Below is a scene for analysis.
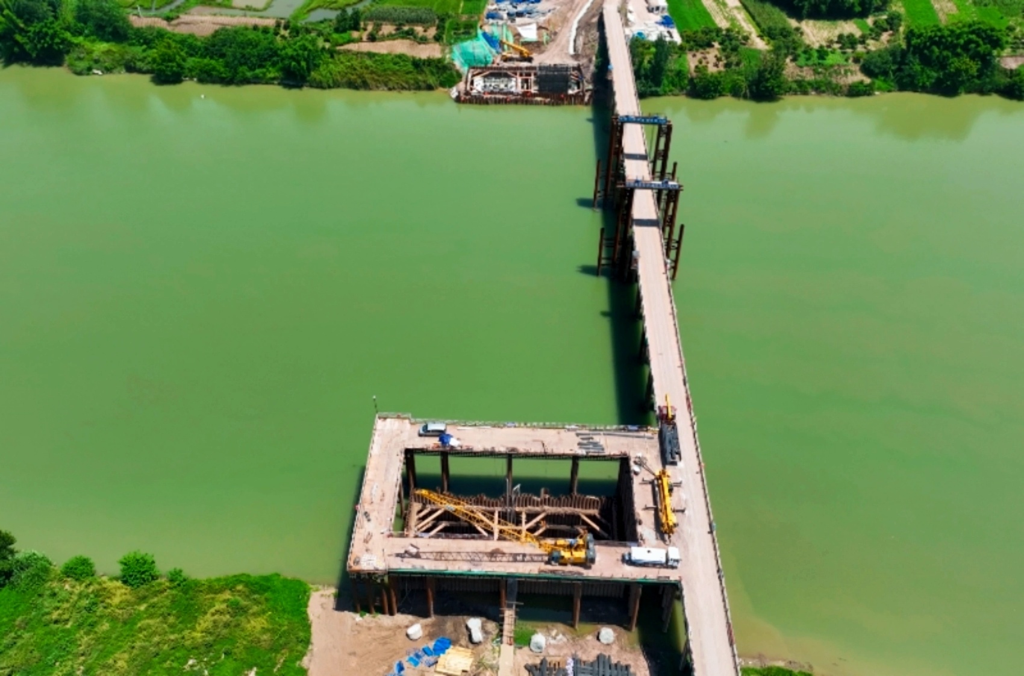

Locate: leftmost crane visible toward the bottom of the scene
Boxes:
[414,485,598,570]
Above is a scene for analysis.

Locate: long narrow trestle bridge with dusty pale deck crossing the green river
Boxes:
[604,7,746,676]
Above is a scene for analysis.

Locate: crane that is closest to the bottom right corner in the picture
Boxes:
[641,466,688,541]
